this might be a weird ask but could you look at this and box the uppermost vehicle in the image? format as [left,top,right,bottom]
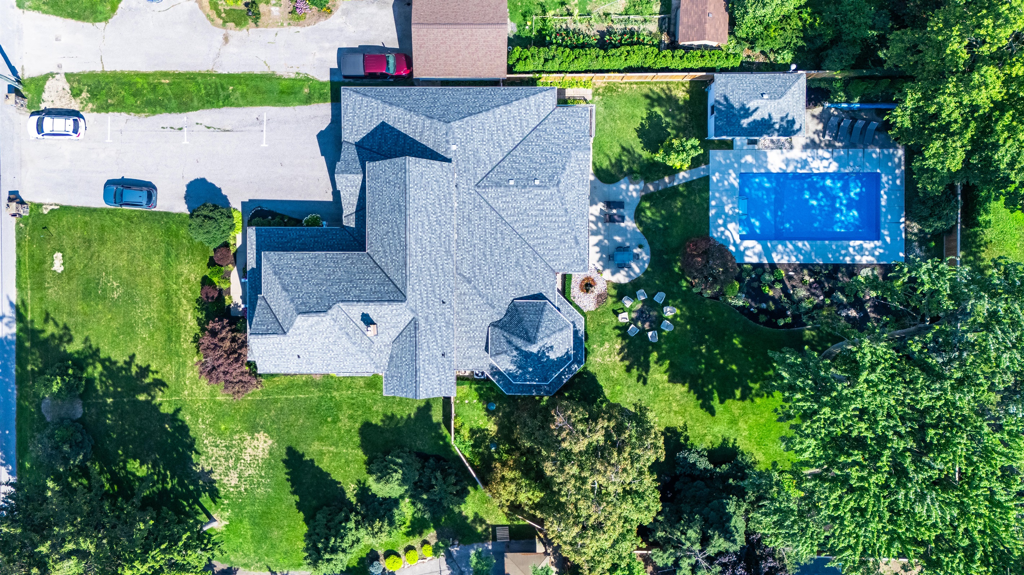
[342,49,411,80]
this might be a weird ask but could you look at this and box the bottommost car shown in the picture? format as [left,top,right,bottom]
[106,182,159,210]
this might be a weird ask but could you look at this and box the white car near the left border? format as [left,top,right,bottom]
[30,111,88,140]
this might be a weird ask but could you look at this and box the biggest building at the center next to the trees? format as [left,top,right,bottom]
[235,84,591,399]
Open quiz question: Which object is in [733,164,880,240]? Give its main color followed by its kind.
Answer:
blue swimming pool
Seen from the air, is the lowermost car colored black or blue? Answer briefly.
blue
